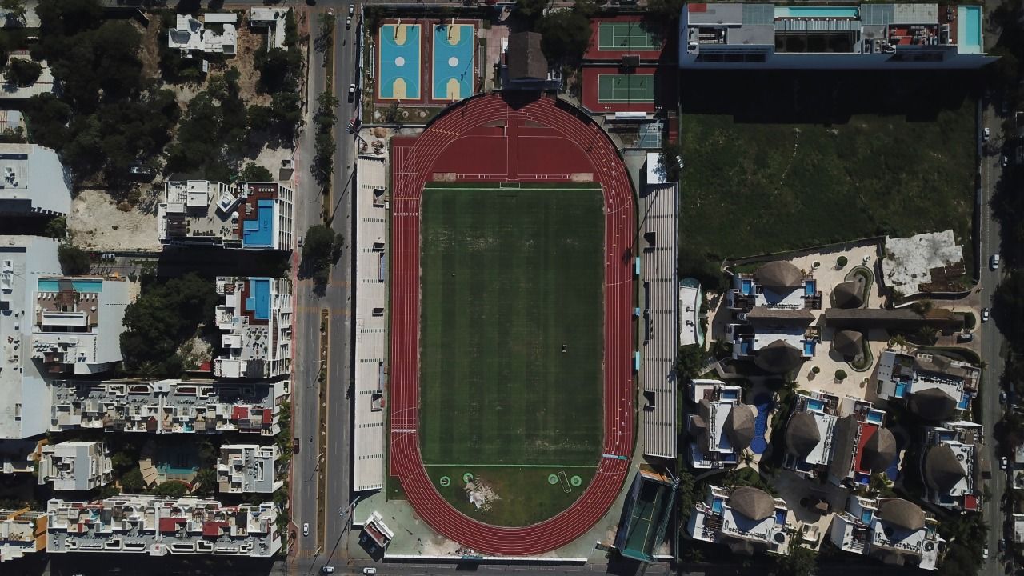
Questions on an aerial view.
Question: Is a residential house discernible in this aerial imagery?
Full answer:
Yes, the picture does show a residential house.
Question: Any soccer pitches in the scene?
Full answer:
Yes, a soccer pitch appears in the view.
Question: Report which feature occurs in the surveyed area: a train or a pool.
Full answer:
I can see a pool in this picture.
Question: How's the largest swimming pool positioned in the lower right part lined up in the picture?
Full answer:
The largest swimming pool positioned in the lower right part is laid out up and down.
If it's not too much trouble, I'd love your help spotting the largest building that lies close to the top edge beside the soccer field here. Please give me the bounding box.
[677,3,1002,71]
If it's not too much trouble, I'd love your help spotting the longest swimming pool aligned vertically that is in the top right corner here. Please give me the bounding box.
[965,5,982,47]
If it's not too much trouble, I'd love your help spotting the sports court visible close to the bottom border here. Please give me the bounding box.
[619,470,675,560]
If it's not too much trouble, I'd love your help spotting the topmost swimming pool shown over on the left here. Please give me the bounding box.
[243,199,274,246]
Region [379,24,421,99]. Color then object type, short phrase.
blue basketball court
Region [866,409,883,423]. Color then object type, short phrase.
blue swimming pool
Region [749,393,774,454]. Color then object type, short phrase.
blue swimming pool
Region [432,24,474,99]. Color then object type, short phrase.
blue basketball court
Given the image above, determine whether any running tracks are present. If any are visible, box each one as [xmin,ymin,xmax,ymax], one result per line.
[390,94,633,555]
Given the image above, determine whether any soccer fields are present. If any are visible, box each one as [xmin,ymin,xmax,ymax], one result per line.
[419,182,605,528]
